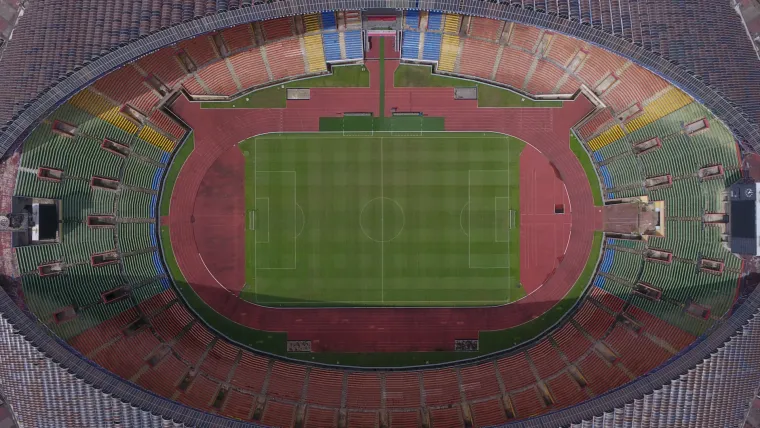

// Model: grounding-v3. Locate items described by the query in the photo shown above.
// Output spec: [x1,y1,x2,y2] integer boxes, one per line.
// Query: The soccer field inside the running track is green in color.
[238,133,526,307]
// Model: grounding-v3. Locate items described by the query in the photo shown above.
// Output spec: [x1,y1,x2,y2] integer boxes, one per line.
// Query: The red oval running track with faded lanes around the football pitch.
[161,34,605,352]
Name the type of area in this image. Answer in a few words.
sports ground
